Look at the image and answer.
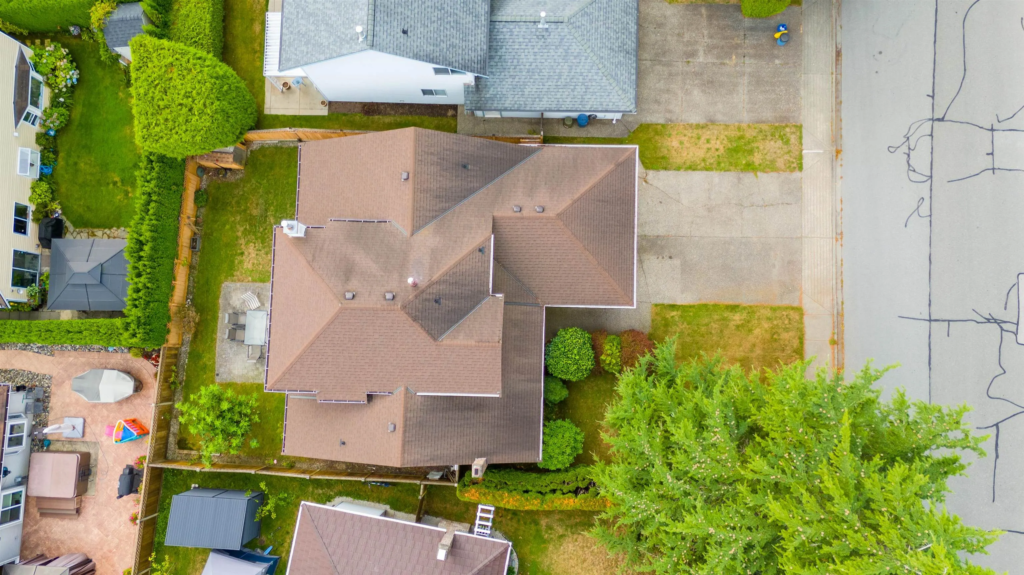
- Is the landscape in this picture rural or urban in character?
urban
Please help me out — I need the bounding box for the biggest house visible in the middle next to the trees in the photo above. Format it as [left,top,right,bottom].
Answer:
[263,127,641,482]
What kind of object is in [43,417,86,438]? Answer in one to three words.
umbrella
